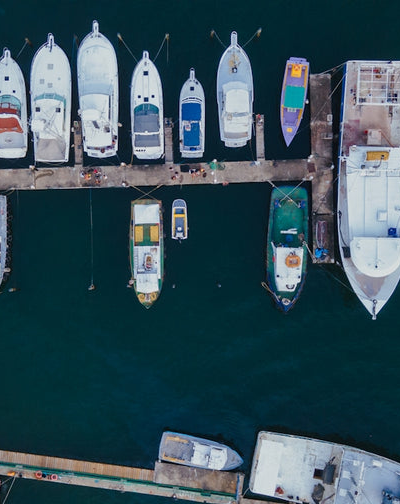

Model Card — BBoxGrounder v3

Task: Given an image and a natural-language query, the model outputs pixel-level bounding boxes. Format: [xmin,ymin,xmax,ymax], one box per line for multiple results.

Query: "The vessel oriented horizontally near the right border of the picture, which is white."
[247,428,400,504]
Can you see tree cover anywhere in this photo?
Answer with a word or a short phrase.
No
